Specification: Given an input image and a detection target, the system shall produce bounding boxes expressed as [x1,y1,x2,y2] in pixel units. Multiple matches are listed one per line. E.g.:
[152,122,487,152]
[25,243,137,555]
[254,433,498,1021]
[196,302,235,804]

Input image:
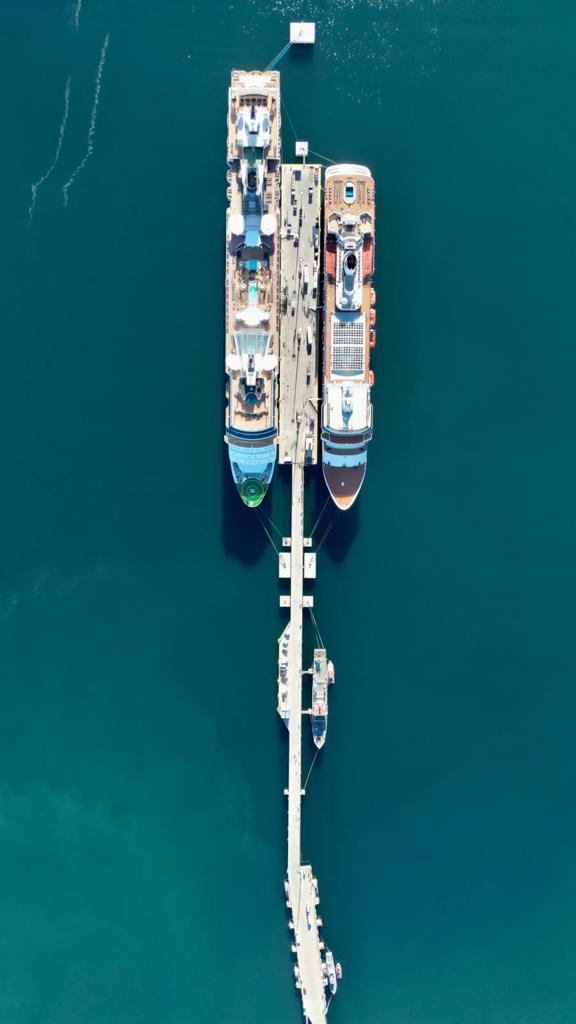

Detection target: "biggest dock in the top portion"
[279,164,323,464]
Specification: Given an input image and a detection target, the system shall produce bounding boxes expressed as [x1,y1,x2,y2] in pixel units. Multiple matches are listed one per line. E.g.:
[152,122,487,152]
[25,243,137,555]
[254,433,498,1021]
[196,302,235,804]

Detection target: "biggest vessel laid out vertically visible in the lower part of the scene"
[312,648,328,749]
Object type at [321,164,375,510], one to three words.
ship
